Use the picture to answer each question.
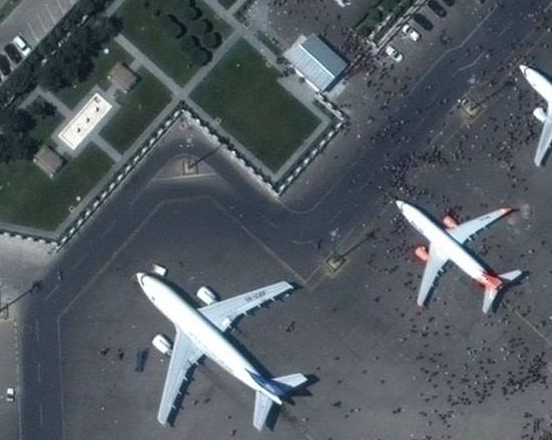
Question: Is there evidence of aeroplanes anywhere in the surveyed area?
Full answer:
Yes, an aeroplane is visible in the scene.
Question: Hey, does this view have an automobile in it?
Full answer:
Yes, the picture does show an automobile.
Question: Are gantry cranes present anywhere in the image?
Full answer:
No, there is no gantry crane in the image.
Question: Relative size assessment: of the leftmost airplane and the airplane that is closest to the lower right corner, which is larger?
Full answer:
The airplane that is closest to the lower right corner is smaller than the leftmost airplane.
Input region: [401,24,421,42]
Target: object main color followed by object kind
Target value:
white car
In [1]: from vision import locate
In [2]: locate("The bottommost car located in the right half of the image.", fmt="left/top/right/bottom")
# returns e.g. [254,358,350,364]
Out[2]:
[385,46,404,63]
